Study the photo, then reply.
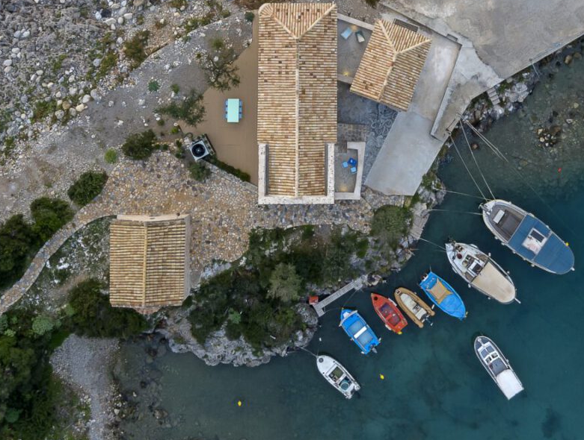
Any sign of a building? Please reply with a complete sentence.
Yes, there's a building down there.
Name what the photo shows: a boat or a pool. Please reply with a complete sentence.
This aerial view contains a boat.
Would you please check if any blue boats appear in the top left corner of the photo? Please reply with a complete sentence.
No, there's no blue boat to be seen in the top left corner of the photo.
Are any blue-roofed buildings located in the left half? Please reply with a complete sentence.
No, no blue-roofed building is visible in the left half.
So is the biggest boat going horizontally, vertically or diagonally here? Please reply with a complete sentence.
In this picture, the biggest boat lies diagonally.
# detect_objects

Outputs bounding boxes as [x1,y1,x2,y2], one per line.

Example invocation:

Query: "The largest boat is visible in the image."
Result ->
[478,200,575,275]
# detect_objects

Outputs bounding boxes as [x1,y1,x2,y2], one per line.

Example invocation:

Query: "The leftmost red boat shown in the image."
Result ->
[370,293,408,335]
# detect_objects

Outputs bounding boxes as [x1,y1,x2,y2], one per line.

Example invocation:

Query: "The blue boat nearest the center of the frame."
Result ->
[339,308,381,355]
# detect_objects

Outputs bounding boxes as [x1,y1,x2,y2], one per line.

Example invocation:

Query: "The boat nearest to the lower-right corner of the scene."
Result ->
[473,335,523,400]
